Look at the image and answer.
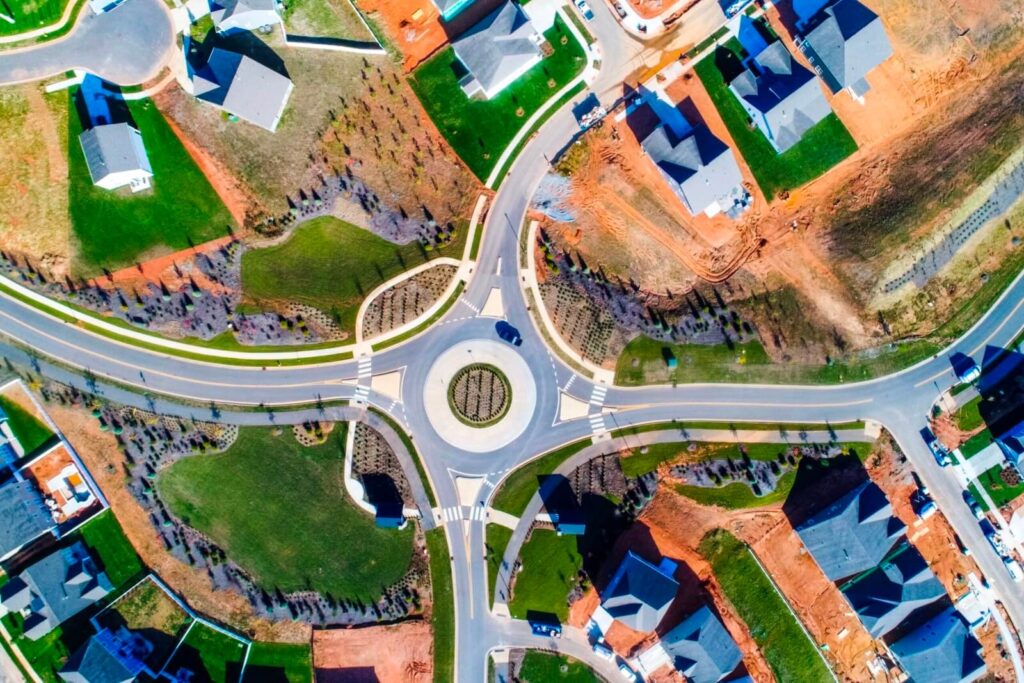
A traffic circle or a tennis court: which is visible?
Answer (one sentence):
Visible in the photo is a traffic circle.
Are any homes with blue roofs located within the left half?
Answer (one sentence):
Yes, a home with a blue roof is visible within the left half.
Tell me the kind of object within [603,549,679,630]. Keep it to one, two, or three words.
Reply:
house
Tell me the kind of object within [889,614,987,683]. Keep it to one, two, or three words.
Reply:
house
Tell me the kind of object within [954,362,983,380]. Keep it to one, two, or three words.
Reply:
vehicle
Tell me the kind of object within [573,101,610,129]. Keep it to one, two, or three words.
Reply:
truck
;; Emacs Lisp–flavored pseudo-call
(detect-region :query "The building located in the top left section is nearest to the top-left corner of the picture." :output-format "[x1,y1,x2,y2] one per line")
[80,122,153,189]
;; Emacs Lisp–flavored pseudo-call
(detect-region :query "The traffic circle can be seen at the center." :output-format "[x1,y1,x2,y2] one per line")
[342,257,616,535]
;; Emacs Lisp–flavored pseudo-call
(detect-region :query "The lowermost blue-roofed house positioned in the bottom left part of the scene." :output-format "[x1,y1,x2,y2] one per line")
[58,636,141,683]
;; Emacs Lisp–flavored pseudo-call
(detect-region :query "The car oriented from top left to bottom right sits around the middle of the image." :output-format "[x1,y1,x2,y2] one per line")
[500,324,523,343]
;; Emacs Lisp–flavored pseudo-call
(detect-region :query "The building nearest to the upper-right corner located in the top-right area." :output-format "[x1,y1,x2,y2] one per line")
[796,0,893,101]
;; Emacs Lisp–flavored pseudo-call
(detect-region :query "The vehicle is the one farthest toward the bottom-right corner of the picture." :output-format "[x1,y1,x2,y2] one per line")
[1001,558,1024,585]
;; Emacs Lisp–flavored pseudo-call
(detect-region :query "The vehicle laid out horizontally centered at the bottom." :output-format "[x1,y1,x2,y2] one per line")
[532,623,561,636]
